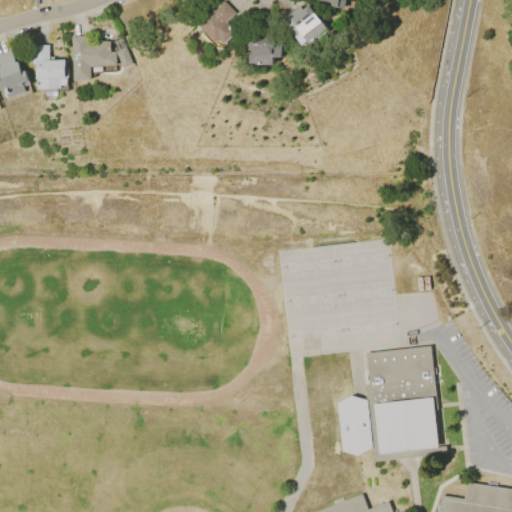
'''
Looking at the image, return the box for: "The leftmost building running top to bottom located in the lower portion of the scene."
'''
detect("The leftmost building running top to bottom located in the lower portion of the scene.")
[338,396,372,456]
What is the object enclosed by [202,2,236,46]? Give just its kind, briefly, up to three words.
house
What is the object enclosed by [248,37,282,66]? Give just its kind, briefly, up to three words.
house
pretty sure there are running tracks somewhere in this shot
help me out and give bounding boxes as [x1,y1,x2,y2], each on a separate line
[0,236,275,405]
